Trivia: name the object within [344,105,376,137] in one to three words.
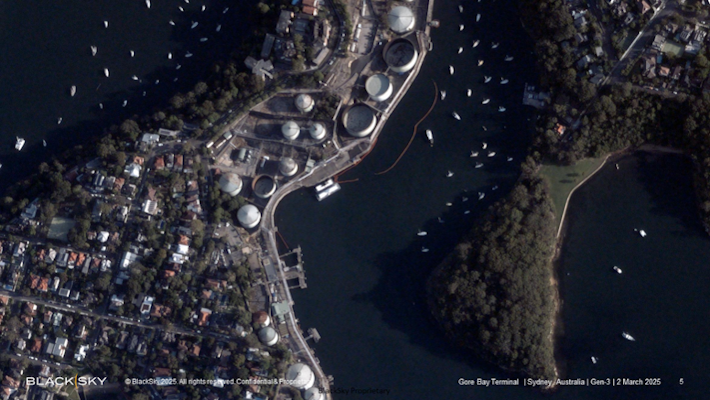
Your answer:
storage tank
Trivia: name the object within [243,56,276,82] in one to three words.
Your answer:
building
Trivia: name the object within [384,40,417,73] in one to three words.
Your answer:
storage tank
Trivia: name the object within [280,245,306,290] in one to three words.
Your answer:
pier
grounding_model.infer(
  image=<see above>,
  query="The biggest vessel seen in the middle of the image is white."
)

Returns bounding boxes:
[318,185,340,201]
